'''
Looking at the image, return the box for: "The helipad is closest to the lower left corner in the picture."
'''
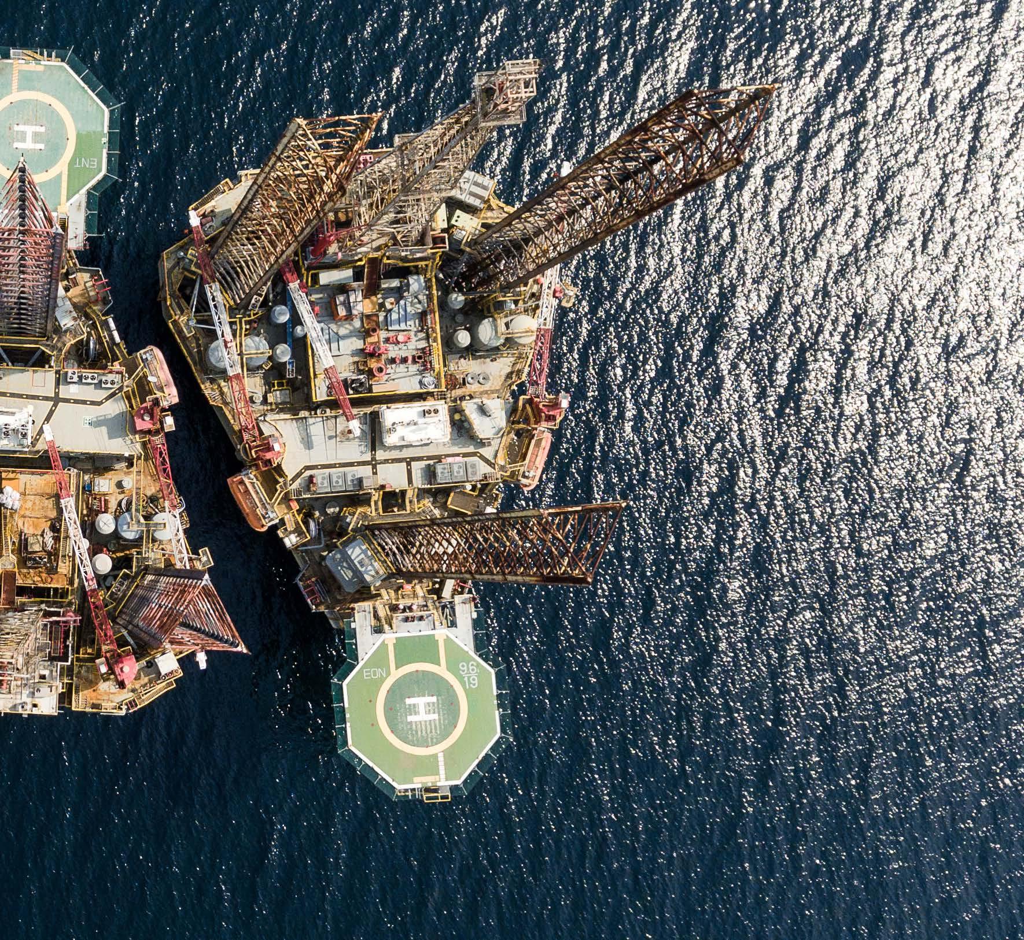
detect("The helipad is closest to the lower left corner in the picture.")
[325,582,518,805]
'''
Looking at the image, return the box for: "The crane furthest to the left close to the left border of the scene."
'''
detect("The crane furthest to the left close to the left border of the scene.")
[44,424,138,689]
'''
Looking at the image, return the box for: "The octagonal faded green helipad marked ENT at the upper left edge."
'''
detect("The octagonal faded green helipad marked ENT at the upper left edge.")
[0,44,122,275]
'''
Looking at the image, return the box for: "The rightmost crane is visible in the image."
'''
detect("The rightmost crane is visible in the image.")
[521,164,571,434]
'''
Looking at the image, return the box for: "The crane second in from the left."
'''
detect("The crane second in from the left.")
[135,399,192,565]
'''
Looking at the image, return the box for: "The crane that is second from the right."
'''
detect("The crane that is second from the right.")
[257,224,364,442]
